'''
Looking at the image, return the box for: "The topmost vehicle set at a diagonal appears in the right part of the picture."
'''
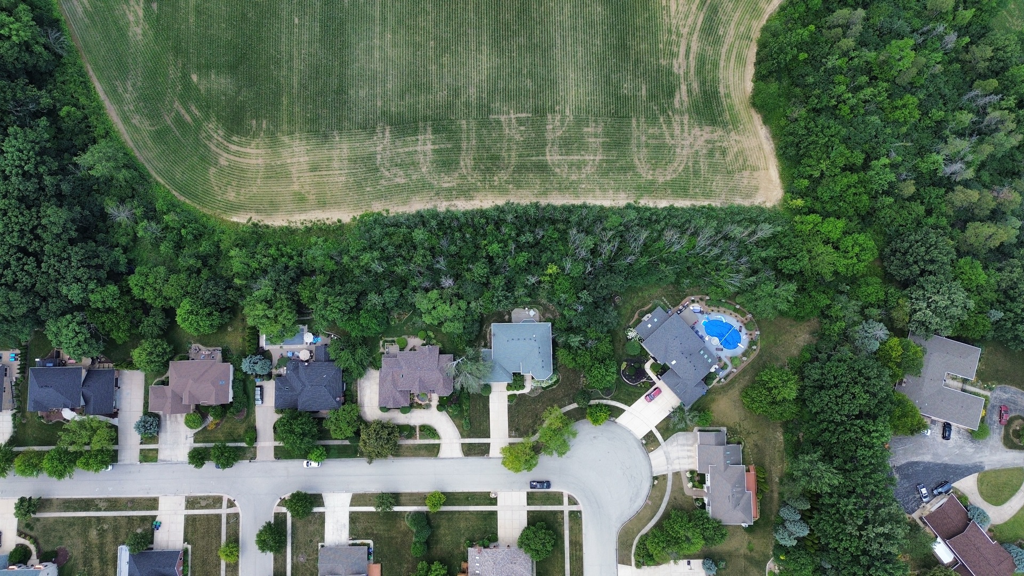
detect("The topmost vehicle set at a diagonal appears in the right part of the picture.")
[644,386,662,402]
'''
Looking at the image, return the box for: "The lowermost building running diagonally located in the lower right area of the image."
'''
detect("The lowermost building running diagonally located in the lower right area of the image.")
[914,491,1022,576]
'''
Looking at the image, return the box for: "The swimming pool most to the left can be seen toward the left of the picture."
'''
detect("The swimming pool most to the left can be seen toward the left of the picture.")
[265,326,305,346]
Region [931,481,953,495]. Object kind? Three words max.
car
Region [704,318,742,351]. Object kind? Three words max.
swimming pool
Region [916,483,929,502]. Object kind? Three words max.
vehicle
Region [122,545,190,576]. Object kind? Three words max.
house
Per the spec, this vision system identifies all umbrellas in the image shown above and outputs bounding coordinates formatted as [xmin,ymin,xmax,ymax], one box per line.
[299,349,310,360]
[304,333,313,342]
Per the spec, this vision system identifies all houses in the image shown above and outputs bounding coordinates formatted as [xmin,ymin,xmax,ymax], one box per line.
[0,364,16,412]
[27,357,124,414]
[122,545,190,576]
[149,351,237,415]
[694,430,753,527]
[914,491,1022,576]
[467,543,532,576]
[318,541,370,576]
[633,306,719,406]
[0,549,69,576]
[482,319,553,383]
[891,331,986,429]
[275,346,345,411]
[378,345,454,409]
